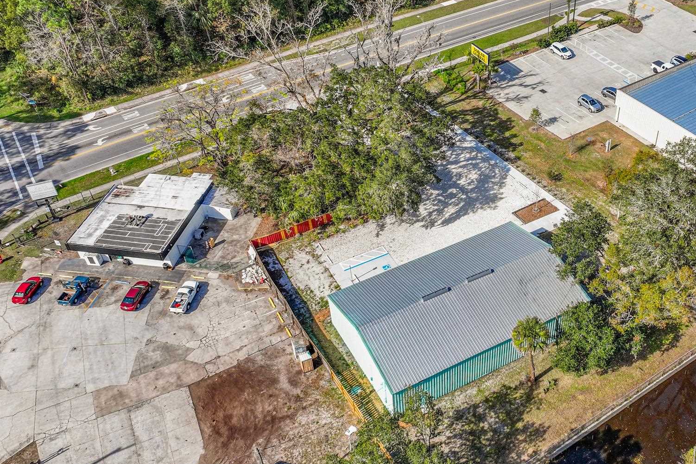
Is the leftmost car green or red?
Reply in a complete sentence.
From above, the leftmost car appears red.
